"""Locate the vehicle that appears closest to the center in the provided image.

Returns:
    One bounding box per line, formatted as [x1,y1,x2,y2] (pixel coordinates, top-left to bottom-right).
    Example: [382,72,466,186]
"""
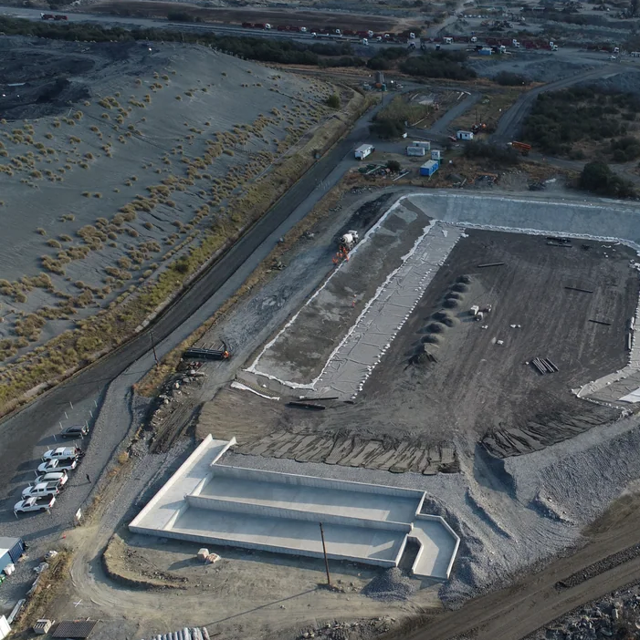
[337,229,357,250]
